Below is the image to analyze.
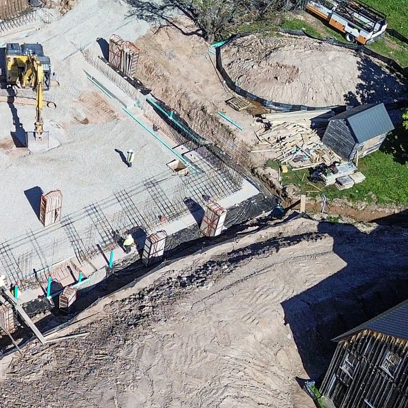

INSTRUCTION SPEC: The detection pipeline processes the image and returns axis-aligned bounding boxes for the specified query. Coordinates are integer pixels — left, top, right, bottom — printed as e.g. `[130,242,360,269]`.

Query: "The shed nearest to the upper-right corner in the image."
[321,105,398,170]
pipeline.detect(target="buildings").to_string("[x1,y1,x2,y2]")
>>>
[320,296,408,408]
[321,105,398,170]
